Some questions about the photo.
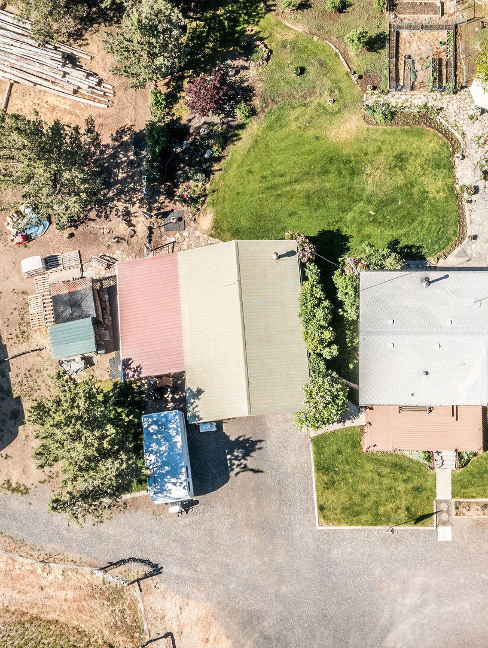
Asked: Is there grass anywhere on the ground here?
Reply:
Yes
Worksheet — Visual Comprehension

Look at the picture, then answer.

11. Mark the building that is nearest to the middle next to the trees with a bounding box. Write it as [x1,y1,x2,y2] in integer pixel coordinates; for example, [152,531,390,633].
[115,240,313,429]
